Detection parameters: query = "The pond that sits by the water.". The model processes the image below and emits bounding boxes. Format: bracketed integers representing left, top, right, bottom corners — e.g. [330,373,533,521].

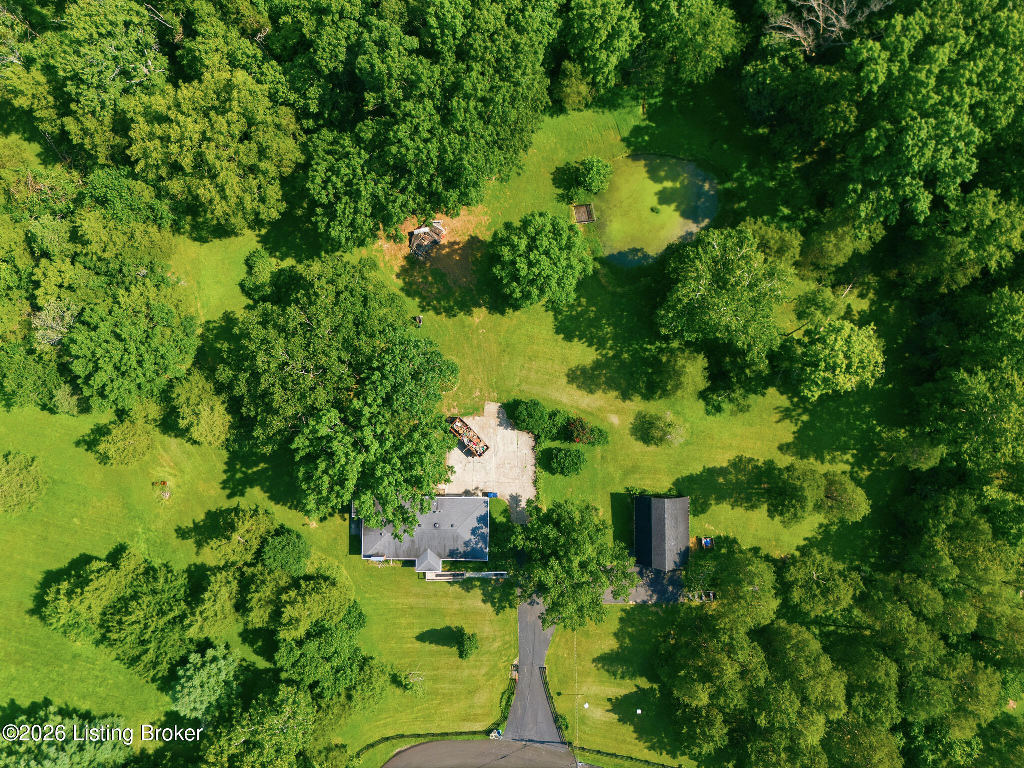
[595,154,721,267]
